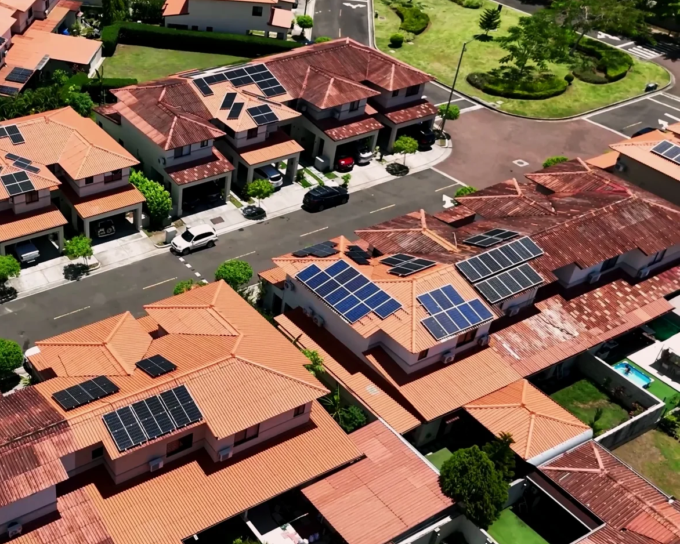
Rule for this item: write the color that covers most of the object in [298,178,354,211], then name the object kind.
black car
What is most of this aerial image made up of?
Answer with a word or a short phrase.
buildings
